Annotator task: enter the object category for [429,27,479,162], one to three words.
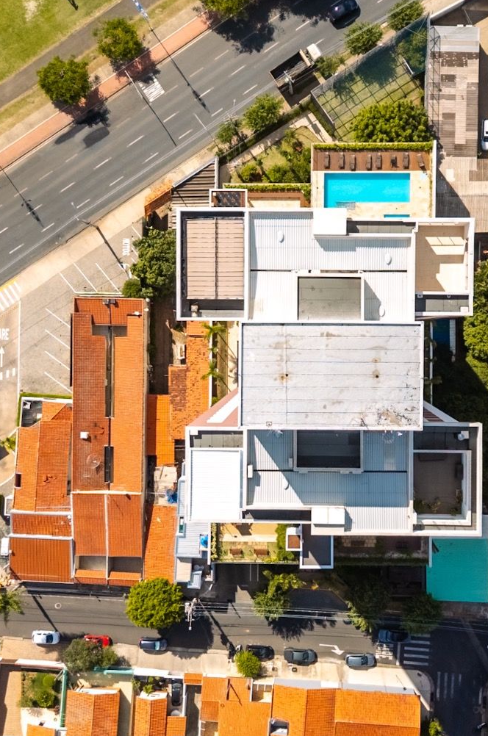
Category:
building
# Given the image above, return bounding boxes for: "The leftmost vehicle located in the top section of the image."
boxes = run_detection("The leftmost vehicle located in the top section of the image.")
[265,40,323,88]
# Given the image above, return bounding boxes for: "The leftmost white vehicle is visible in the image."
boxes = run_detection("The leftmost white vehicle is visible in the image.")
[31,629,60,645]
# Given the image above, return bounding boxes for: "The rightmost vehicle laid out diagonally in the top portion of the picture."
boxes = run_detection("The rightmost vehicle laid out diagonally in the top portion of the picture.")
[328,0,359,24]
